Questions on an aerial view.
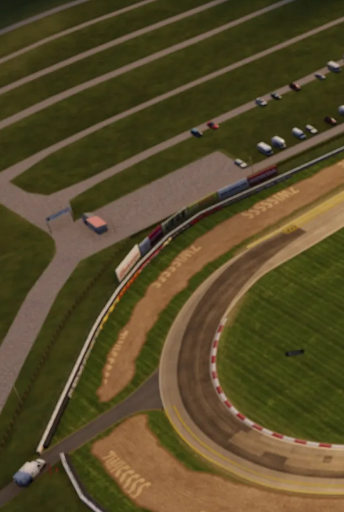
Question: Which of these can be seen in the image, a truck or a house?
truck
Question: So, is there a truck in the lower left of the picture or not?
Yes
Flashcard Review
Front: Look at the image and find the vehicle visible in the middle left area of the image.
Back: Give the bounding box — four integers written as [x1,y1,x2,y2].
[82,214,104,233]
